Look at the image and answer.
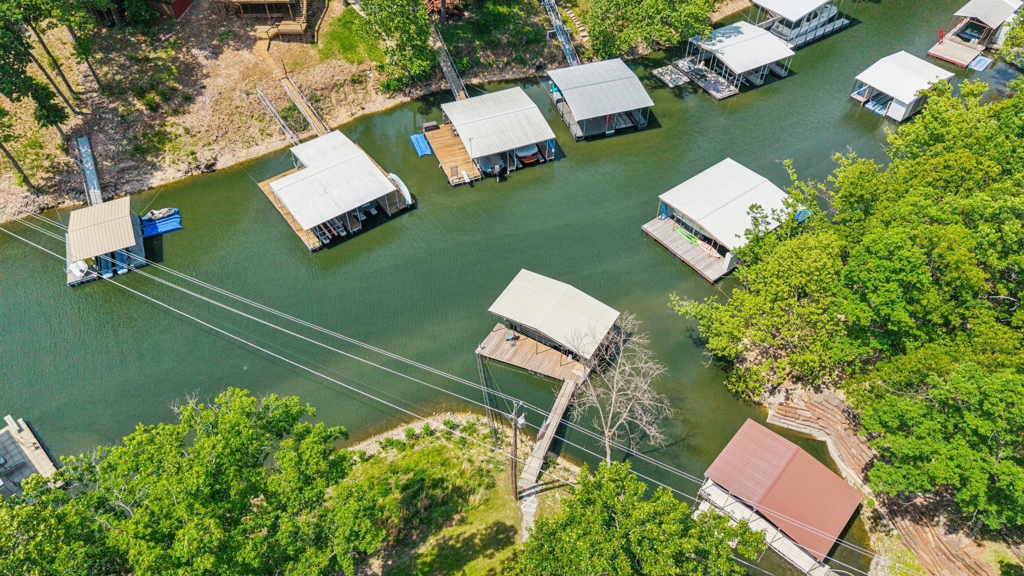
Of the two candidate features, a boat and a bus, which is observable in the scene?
boat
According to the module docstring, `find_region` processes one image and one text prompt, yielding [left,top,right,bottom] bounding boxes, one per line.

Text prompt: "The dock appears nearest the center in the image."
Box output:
[475,269,620,399]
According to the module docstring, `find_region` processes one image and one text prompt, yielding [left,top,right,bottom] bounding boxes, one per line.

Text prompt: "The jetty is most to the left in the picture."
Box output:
[0,413,69,516]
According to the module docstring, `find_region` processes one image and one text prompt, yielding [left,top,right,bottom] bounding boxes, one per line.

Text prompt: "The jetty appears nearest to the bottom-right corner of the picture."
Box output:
[697,418,864,576]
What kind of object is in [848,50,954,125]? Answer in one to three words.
pier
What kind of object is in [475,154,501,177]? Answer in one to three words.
boat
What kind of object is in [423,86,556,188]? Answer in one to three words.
pier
